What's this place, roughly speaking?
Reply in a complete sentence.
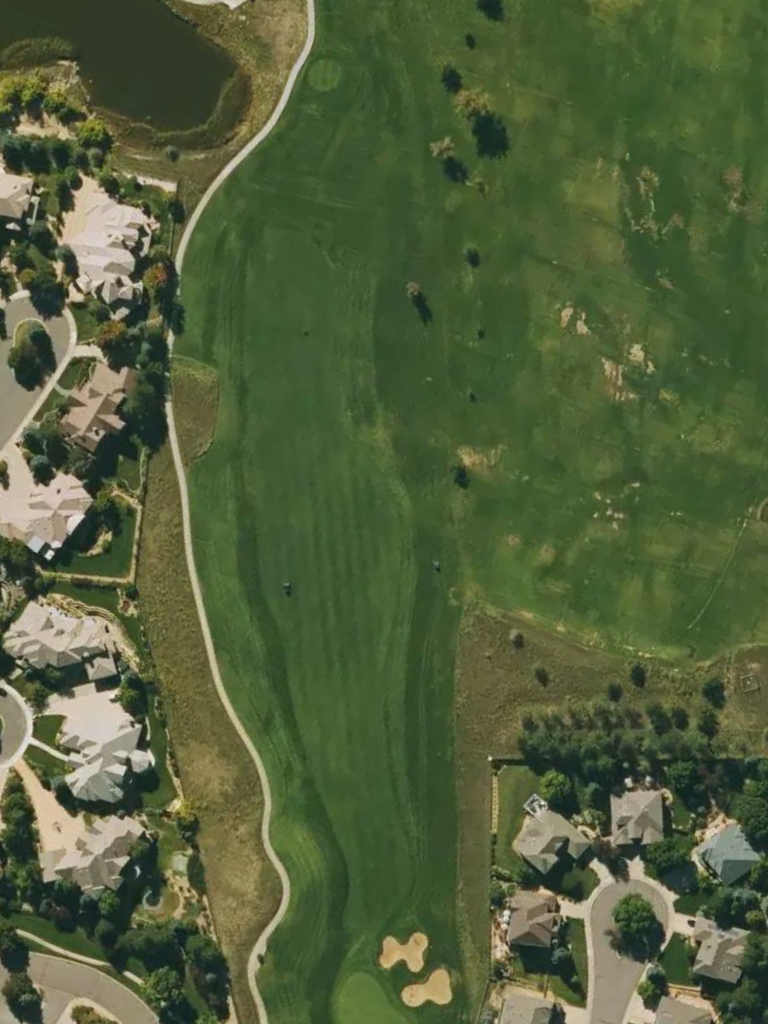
This image shows a golf course.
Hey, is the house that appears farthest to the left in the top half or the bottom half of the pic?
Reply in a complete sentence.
It is in the top half that the house that appears farthest to the left appears.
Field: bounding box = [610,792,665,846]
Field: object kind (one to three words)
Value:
house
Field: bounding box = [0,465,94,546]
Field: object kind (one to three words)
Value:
house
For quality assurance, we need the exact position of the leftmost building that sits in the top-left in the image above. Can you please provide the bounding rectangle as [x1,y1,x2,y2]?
[0,174,31,216]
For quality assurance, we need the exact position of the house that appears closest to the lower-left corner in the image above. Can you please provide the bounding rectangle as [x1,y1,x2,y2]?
[37,811,151,898]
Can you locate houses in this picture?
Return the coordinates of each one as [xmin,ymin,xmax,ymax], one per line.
[37,811,151,898]
[53,360,139,454]
[507,892,565,951]
[698,824,763,886]
[61,709,154,810]
[72,198,148,322]
[610,792,665,846]
[692,915,750,990]
[504,999,562,1024]
[0,174,31,216]
[0,602,107,675]
[517,807,598,876]
[0,465,94,546]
